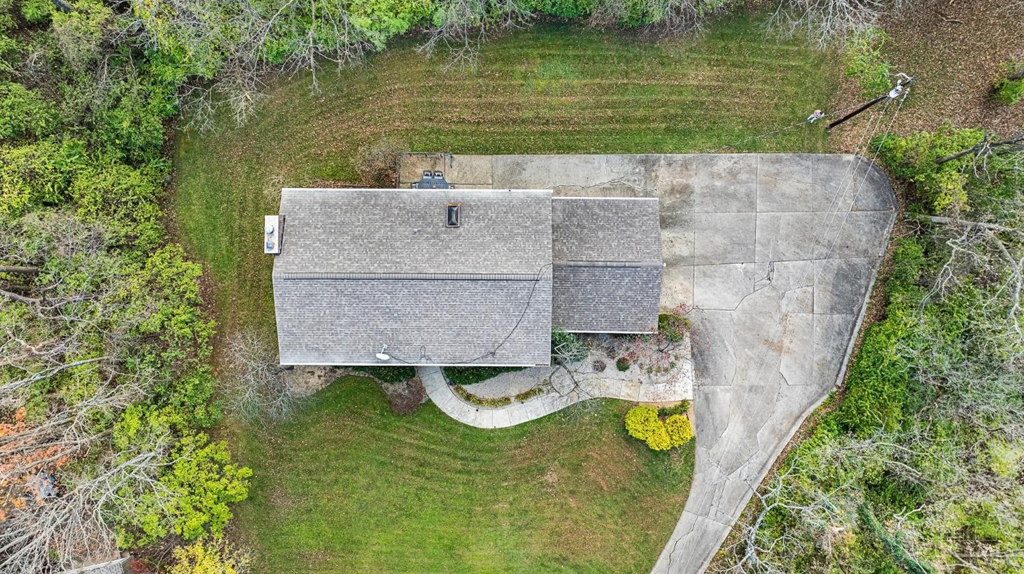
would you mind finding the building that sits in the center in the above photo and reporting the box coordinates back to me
[265,186,667,368]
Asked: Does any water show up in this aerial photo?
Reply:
No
